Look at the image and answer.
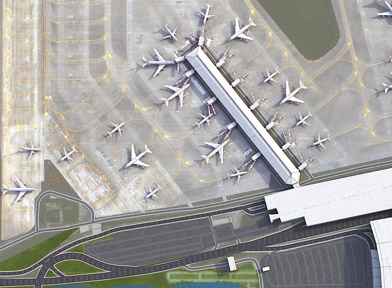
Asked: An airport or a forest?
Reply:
airport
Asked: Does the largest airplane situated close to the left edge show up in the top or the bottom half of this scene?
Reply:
bottom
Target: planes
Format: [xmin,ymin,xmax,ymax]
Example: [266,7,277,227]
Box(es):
[4,175,36,203]
[201,140,229,163]
[20,140,41,157]
[313,133,333,149]
[62,147,79,162]
[264,68,280,83]
[105,121,125,137]
[377,0,392,17]
[125,144,152,168]
[383,82,392,93]
[194,113,213,127]
[279,79,307,104]
[197,2,215,24]
[227,166,247,184]
[163,23,178,42]
[141,48,175,76]
[228,17,255,42]
[296,111,314,126]
[162,83,190,107]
